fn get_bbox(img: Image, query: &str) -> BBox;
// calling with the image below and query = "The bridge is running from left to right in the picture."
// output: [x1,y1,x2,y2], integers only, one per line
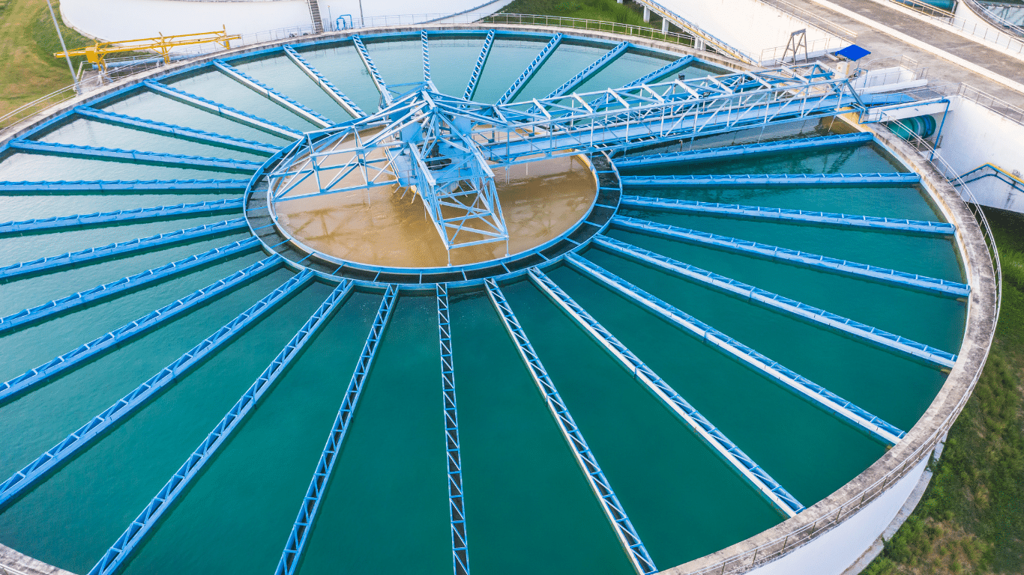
[460,59,871,186]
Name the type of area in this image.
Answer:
industrial area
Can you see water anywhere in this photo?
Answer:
Yes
